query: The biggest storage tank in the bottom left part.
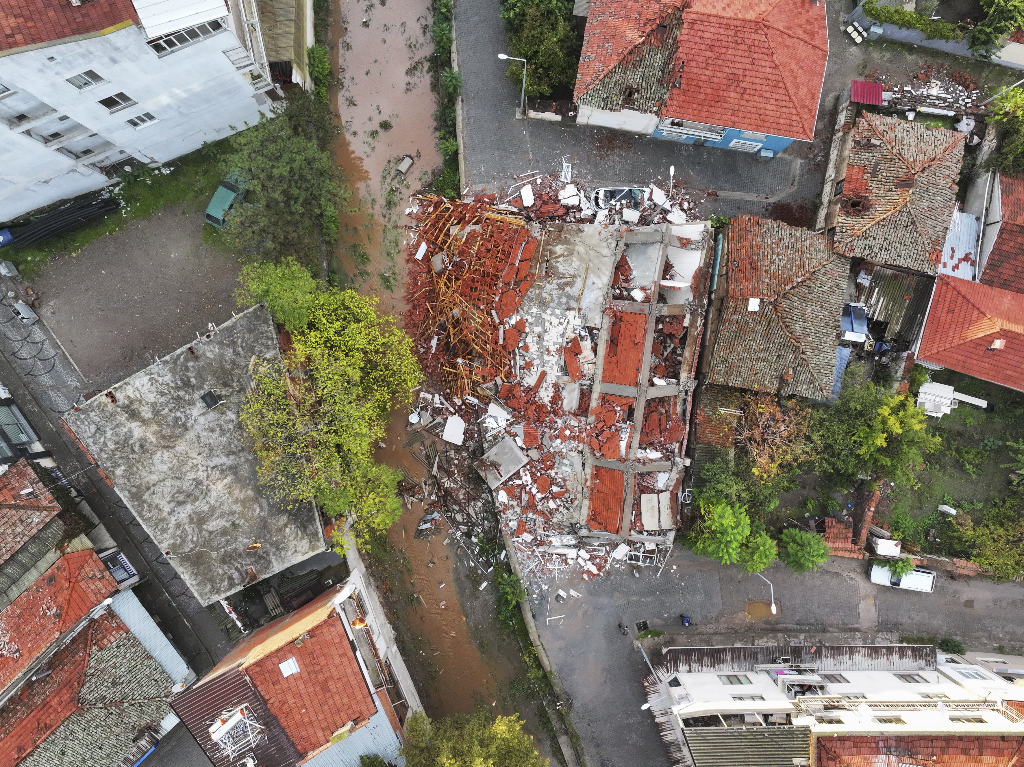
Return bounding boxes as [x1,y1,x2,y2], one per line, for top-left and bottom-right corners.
[210,708,244,743]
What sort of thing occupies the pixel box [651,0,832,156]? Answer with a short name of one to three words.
house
